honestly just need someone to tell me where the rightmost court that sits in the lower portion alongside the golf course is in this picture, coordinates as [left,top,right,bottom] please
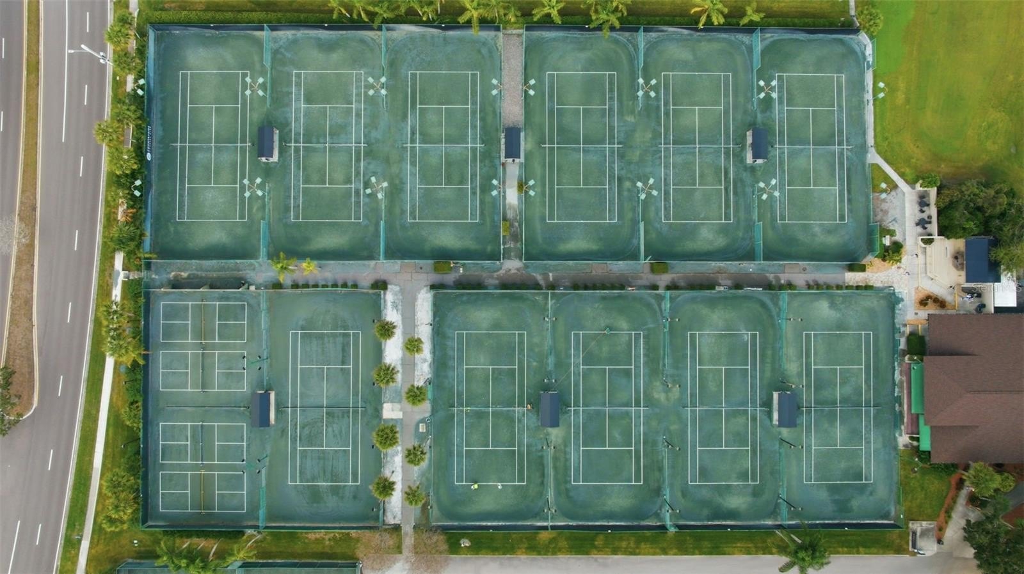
[780,291,895,523]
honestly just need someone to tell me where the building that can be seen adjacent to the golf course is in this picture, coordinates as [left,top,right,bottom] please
[910,313,1024,463]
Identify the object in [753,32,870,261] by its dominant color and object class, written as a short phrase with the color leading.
green tennis court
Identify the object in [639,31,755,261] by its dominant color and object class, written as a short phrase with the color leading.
green tennis court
